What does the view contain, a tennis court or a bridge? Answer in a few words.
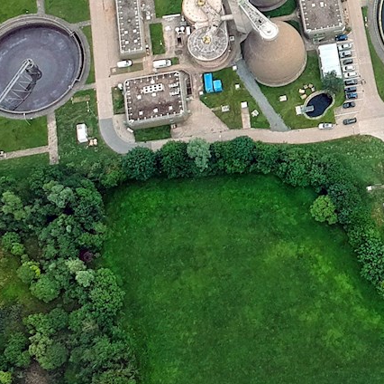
bridge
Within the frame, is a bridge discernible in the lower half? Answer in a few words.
No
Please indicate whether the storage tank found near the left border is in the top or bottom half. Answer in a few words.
top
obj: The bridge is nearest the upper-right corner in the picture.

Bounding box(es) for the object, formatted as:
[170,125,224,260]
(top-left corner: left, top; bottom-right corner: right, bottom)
[244,7,281,42]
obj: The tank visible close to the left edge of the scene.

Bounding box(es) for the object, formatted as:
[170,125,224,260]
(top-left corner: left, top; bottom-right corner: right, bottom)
[0,12,90,122]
